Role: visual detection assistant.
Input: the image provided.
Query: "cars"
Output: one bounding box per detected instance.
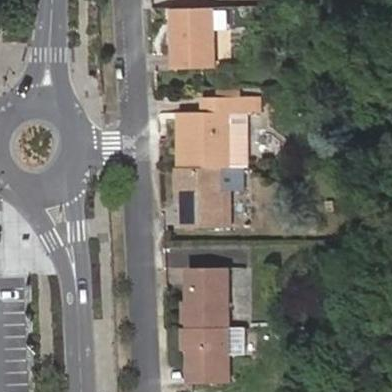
[114,58,125,80]
[16,76,33,98]
[78,281,88,302]
[166,370,183,382]
[0,290,20,300]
